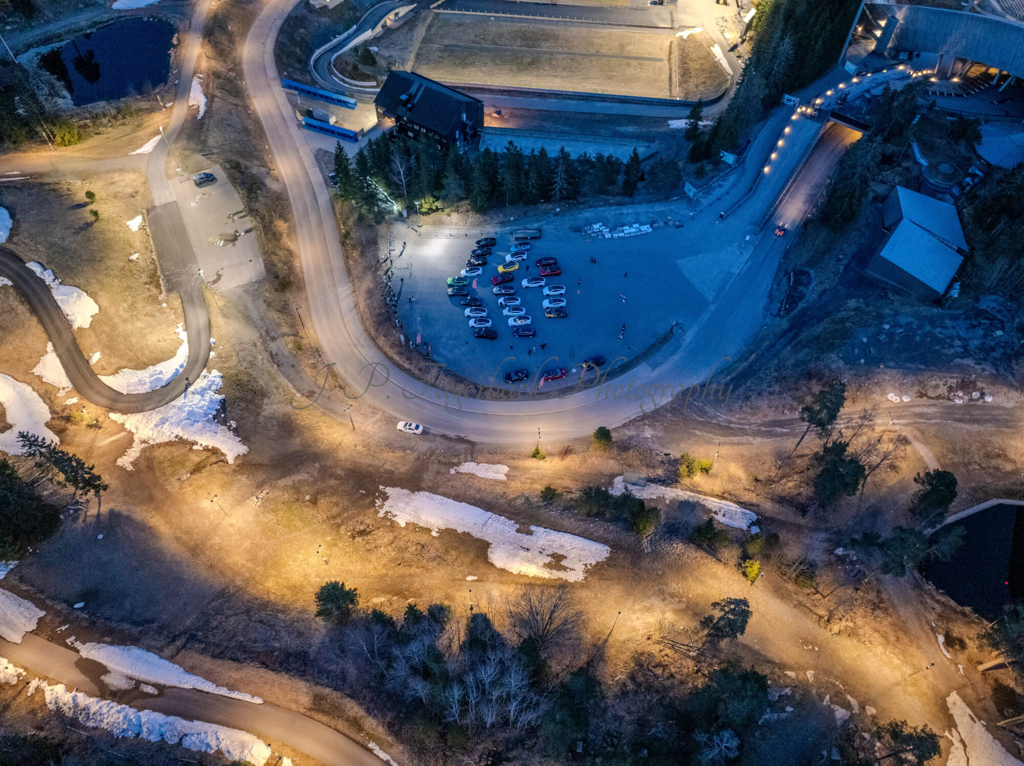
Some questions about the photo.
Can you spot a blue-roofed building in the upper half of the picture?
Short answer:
Yes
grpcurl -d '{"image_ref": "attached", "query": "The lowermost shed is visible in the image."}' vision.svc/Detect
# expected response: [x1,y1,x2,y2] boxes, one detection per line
[622,471,647,490]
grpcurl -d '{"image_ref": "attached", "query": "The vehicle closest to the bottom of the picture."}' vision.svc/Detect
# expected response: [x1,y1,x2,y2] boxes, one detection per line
[397,420,424,435]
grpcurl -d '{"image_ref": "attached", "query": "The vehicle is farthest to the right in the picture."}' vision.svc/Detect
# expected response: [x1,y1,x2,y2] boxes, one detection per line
[774,222,787,237]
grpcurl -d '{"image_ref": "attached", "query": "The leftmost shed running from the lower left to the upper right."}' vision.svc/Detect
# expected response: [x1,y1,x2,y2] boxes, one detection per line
[385,6,414,32]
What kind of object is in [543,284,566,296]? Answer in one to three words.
vehicle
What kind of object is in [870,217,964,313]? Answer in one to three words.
house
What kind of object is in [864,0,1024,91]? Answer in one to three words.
building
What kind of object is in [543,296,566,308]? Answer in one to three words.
vehicle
